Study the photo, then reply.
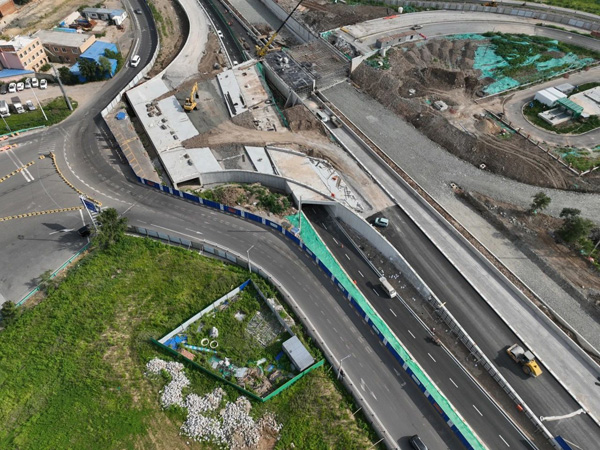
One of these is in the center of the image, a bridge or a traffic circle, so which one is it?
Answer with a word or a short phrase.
bridge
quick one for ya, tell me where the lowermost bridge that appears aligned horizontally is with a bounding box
[186,145,368,219]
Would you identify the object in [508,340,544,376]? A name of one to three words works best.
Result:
work vehicle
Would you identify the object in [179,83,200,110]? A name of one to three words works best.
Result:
work vehicle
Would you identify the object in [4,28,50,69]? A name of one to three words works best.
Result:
building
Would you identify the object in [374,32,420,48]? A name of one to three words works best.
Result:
shed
